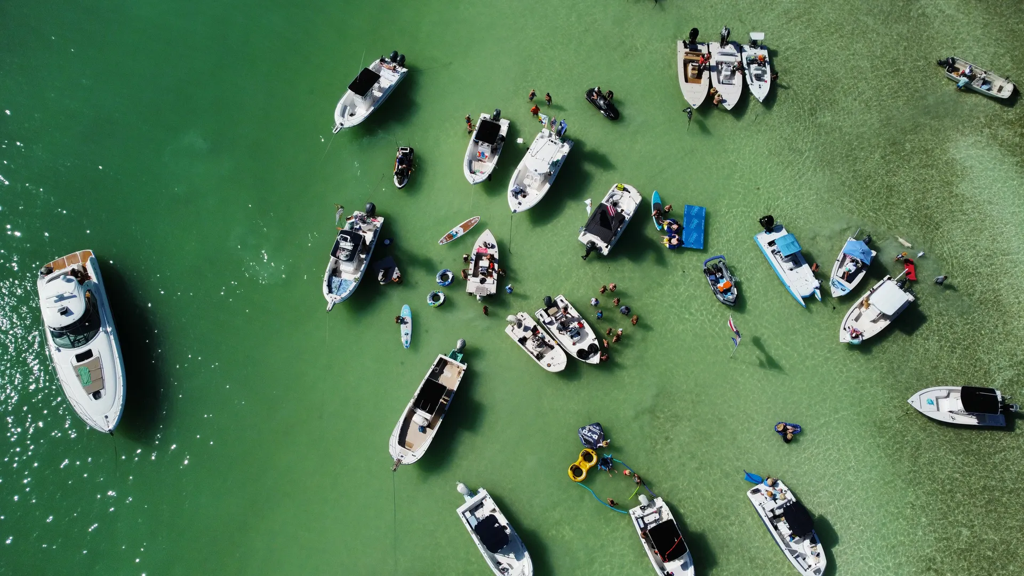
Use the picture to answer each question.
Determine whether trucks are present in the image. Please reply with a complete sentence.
No, there's no truck here.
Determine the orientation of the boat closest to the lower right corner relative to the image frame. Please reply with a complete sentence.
Seen from above, the boat closest to the lower right corner lies horizontally.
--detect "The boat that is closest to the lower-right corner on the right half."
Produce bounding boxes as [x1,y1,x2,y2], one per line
[898,386,1022,427]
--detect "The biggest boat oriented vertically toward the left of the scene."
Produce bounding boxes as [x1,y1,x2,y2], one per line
[41,246,134,446]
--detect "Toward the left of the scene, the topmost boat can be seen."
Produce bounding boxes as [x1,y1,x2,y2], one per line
[337,52,433,133]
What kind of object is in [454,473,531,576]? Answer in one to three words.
boat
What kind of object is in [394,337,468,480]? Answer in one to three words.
boat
